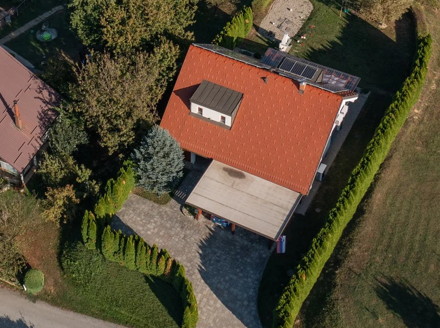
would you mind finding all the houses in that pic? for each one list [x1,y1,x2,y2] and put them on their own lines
[159,44,359,207]
[0,46,72,204]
